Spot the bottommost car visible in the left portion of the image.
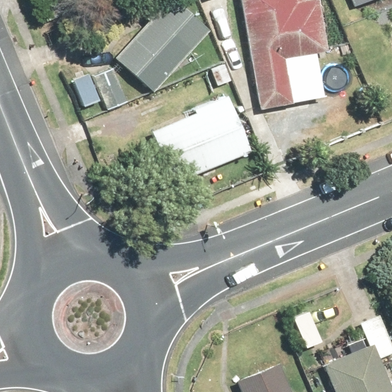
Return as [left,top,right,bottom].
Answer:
[80,51,114,70]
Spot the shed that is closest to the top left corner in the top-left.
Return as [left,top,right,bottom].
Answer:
[72,74,100,108]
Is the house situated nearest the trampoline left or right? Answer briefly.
right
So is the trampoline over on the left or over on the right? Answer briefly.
right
